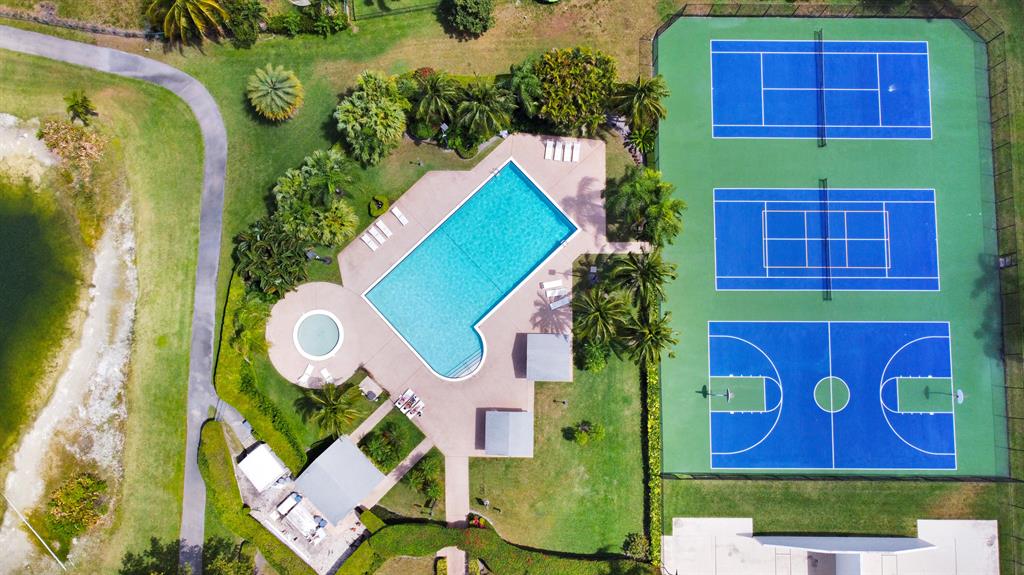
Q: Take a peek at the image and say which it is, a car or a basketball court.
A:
basketball court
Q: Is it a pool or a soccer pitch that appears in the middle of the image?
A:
pool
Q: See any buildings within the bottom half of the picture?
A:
Yes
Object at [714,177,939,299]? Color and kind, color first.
blue tennis court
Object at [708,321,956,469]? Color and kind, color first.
blue basketball court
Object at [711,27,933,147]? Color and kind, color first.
blue tennis court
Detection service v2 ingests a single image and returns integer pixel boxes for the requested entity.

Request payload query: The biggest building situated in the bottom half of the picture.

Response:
[295,438,386,526]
